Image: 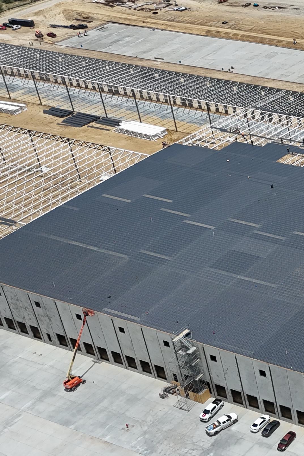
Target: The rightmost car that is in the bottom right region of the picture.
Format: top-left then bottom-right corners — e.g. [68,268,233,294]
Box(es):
[275,428,296,449]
